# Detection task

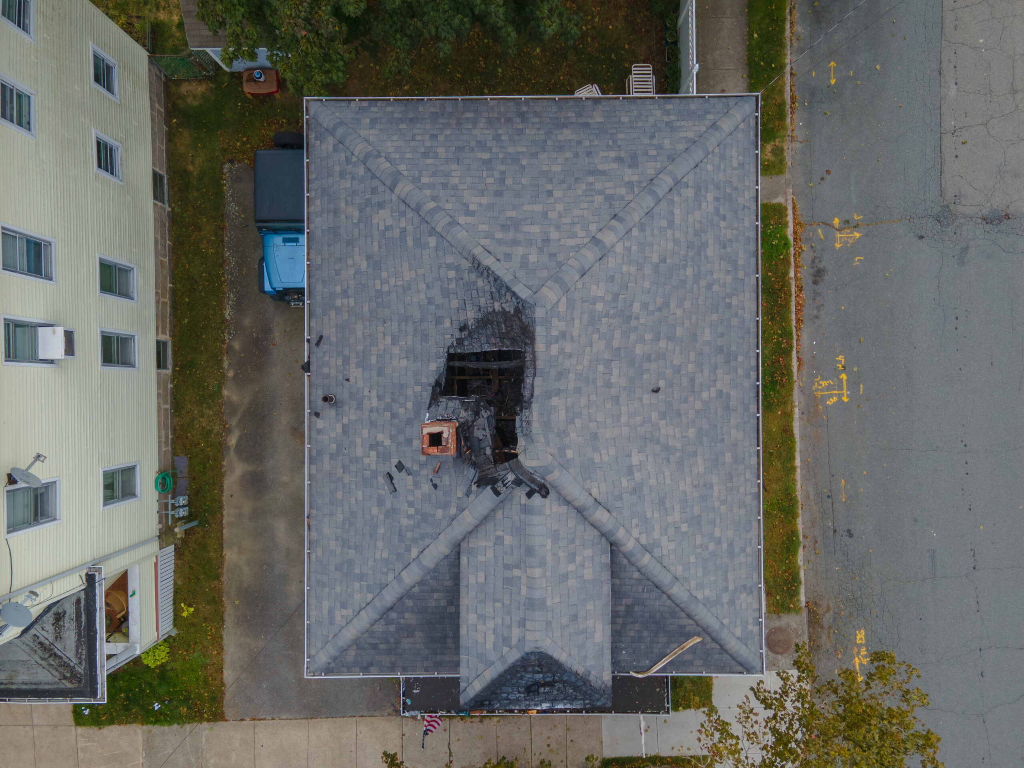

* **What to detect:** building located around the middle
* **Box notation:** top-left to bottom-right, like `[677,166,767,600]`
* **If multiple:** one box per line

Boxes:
[304,95,762,715]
